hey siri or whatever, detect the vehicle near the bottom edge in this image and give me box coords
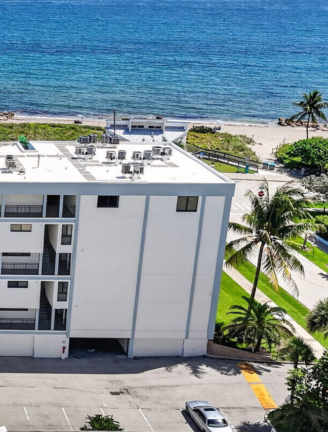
[189,402,237,431]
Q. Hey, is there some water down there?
Yes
